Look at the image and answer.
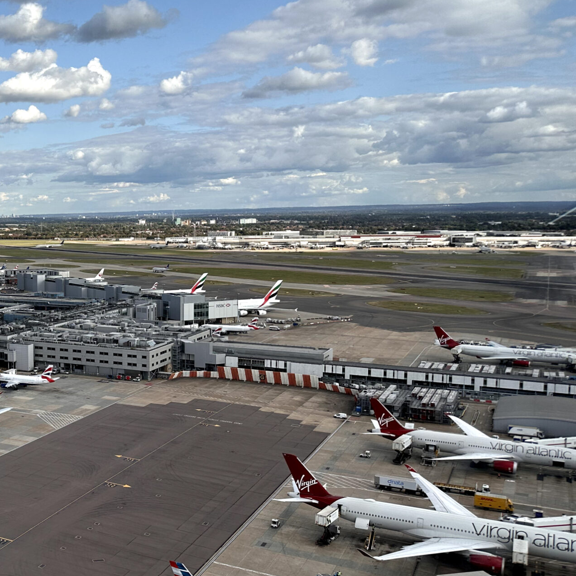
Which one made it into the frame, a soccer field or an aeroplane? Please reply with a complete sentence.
There is an aeroplane in the scene.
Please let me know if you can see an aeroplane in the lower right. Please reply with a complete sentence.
Yes, there is an aeroplane in the lower right.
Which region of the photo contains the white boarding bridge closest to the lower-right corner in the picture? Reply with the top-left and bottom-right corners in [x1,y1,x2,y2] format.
[505,511,576,533]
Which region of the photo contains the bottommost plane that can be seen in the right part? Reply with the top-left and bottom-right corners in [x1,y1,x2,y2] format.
[286,456,576,571]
